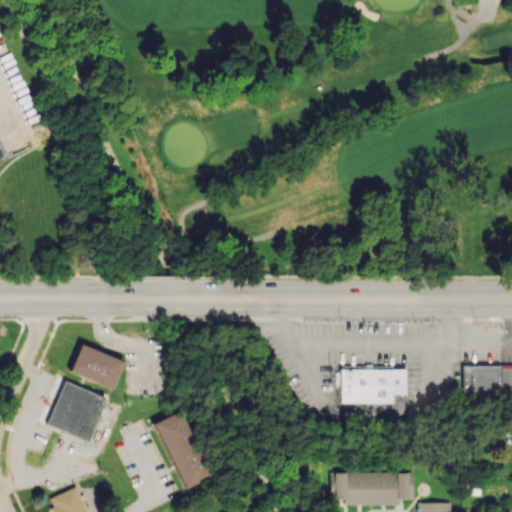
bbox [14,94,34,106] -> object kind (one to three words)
vehicle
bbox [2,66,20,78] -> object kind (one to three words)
vehicle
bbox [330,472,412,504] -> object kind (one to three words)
house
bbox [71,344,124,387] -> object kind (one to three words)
building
